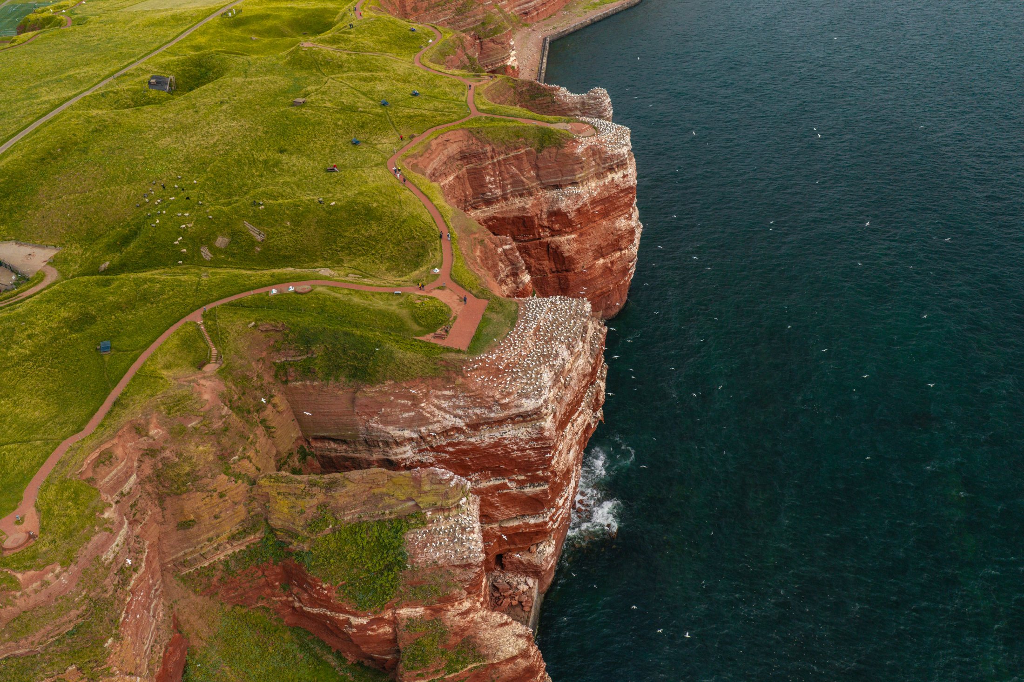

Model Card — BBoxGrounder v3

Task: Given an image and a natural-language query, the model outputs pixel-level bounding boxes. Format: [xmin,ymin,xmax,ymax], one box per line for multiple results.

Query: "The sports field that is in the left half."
[0,1,62,37]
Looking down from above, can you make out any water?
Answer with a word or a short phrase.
Yes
